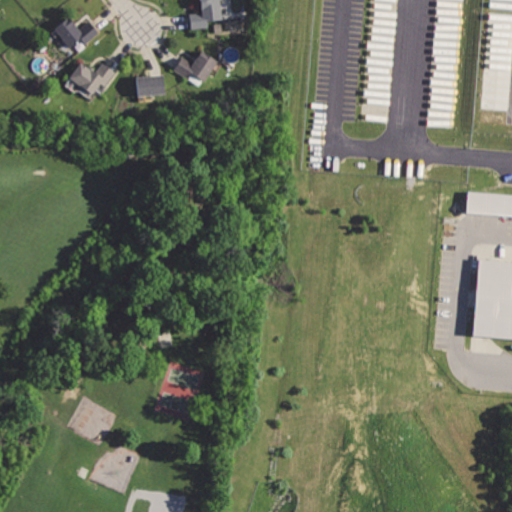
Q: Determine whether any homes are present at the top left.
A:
Yes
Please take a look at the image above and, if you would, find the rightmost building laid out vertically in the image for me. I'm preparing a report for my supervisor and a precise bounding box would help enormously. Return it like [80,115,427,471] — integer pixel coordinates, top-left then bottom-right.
[474,260,512,340]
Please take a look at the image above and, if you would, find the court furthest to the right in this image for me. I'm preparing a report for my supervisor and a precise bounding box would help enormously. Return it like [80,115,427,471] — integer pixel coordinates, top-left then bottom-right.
[156,362,200,419]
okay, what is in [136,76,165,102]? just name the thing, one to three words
house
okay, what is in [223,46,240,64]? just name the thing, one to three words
swimming pool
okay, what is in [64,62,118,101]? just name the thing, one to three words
house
